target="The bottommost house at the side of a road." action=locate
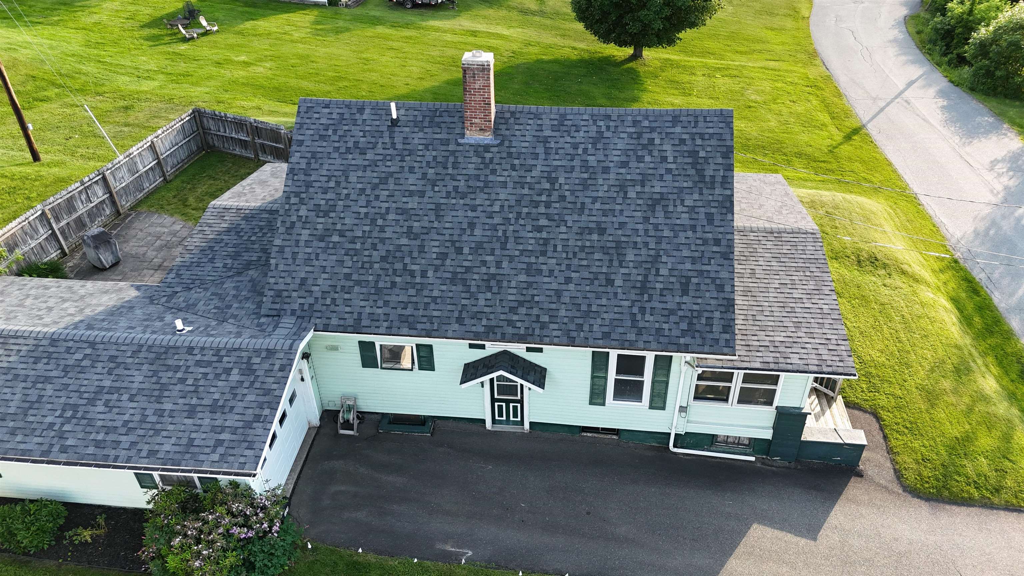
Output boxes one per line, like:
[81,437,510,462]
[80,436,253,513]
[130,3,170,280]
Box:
[0,46,869,513]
